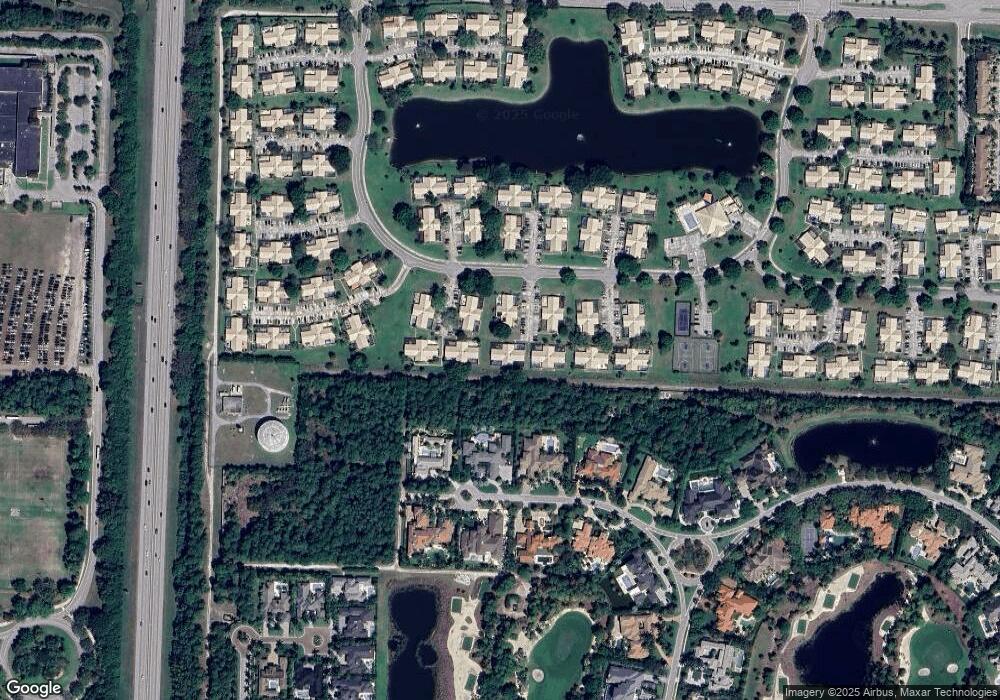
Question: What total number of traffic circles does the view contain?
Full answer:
The picture shows 2 traffic circles.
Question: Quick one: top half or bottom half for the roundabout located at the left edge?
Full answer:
The roundabout located at the left edge is in the bottom half of the image.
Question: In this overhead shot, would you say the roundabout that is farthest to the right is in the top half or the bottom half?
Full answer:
You can find the roundabout that is farthest to the right in the bottom half.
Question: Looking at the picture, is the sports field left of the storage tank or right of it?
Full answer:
From the viewer's perspective, the sports field falls to the left of the storage tank.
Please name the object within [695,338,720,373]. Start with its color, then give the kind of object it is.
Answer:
gray basketball court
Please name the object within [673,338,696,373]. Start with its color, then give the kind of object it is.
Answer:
gray basketball court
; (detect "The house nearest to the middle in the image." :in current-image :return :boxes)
[491,343,524,365]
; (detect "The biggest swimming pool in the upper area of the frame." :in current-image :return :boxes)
[675,204,701,234]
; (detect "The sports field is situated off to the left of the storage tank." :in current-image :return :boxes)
[0,438,65,592]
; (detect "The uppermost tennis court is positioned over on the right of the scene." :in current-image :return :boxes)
[675,301,691,336]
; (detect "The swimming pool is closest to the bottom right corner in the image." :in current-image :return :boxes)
[978,614,995,638]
